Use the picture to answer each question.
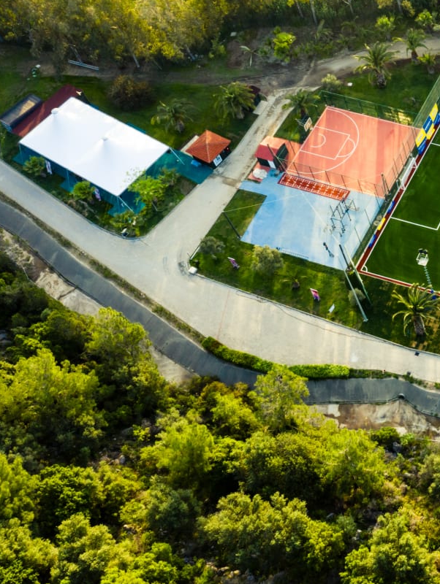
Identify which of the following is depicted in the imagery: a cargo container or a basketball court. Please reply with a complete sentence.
This aerial view contains a basketball court.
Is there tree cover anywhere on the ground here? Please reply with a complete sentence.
Yes, the picture does contain tree cover.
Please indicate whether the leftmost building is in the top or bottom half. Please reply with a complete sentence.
Seen from above, the leftmost building lies in the top half of the view.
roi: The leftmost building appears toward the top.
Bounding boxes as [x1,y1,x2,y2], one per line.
[0,95,44,143]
